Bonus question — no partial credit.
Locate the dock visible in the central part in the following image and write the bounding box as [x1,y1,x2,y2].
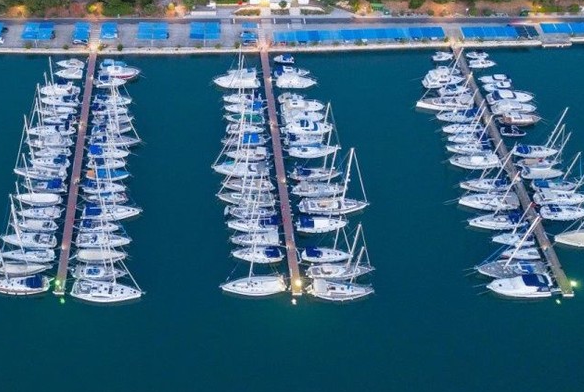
[259,51,305,297]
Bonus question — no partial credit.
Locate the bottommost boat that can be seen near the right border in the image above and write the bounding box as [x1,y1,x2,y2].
[482,277,565,301]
